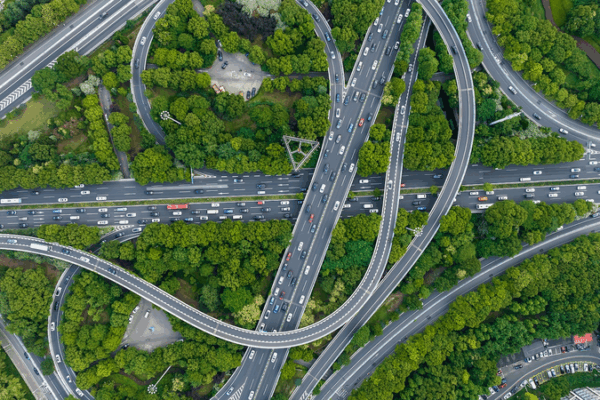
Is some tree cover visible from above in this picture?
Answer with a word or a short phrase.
Yes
